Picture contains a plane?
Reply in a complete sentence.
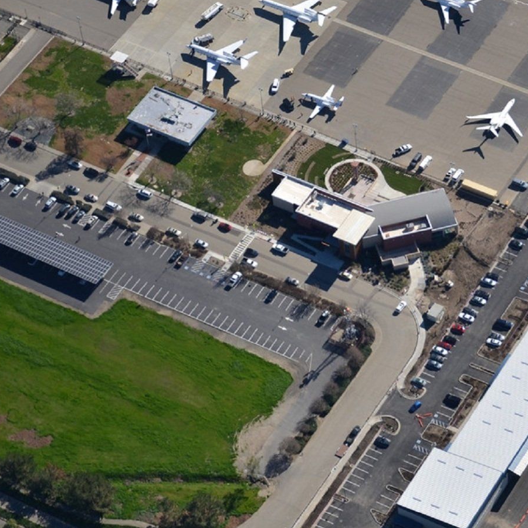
Yes, a plane appears in the view.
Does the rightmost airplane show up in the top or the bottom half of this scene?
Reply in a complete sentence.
The rightmost airplane is in the top half of the image.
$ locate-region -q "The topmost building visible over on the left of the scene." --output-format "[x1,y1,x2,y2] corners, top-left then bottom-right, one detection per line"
[128,86,217,146]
